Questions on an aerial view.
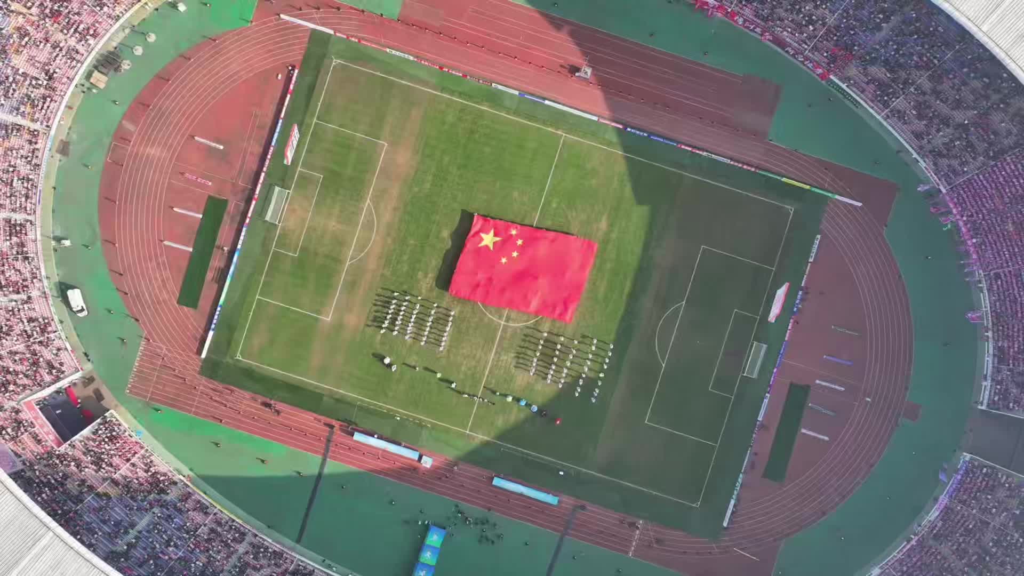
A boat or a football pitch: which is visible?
football pitch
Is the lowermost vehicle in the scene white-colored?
Yes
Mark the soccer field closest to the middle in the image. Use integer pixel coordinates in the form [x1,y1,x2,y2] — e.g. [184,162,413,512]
[200,29,827,539]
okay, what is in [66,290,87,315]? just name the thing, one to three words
vehicle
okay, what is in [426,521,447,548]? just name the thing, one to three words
tent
